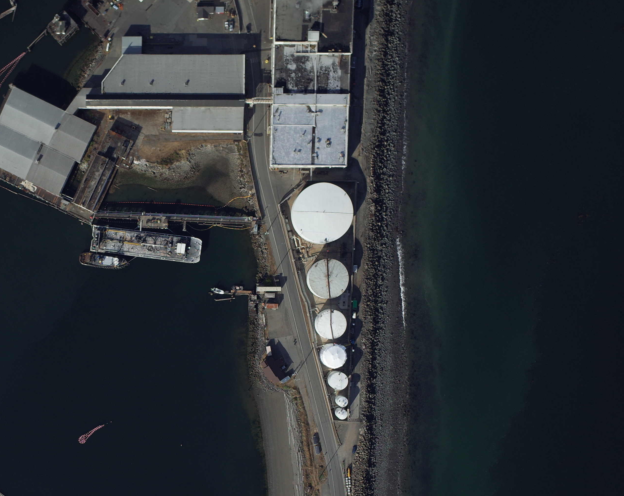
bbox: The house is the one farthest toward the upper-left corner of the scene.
[47,11,79,46]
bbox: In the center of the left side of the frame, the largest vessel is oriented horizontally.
[91,225,202,264]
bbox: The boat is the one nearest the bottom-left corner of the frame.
[80,252,130,269]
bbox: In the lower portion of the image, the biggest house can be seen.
[261,356,289,384]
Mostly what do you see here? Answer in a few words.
water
